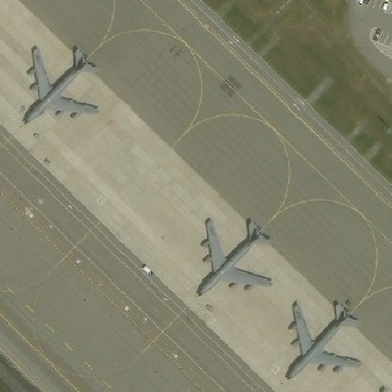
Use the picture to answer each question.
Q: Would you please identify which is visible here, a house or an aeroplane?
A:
aeroplane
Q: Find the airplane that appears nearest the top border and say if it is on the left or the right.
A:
left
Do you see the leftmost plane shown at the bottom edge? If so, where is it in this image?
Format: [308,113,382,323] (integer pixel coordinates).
[287,302,362,378]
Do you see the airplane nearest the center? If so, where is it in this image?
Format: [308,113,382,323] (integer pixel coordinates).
[199,220,273,295]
